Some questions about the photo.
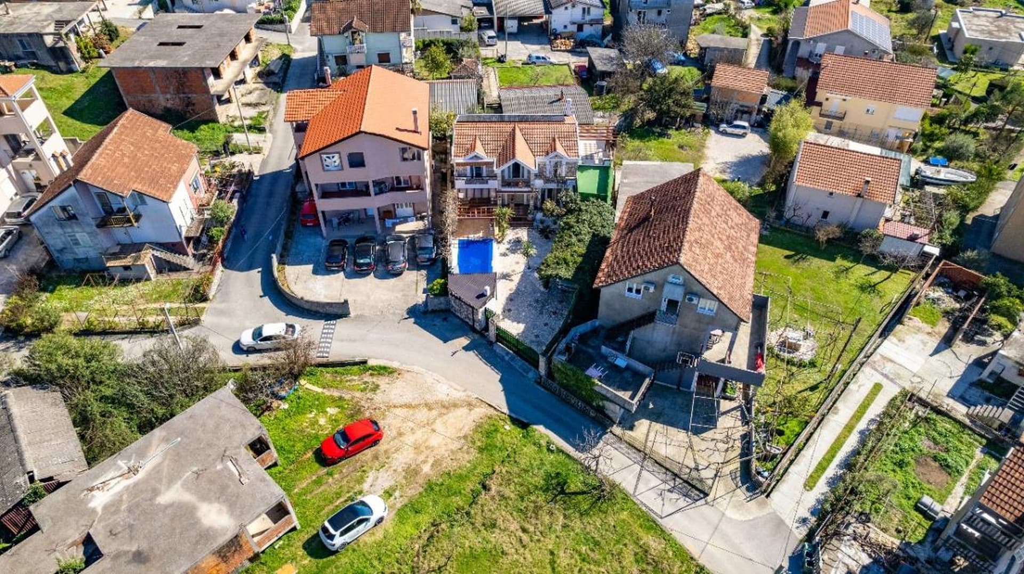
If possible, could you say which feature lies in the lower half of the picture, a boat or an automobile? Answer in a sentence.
Visible in the lower half of the picture is an automobile.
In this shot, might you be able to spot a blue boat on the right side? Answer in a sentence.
No, there's no blue boat to be seen on the right side.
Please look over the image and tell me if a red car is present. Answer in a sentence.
Yes, the picture does show a red car.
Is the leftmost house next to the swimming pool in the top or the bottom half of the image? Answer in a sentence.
The leftmost house next to the swimming pool sits in the top half of the picture.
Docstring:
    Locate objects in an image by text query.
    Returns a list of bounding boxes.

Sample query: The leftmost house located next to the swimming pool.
[284,58,433,240]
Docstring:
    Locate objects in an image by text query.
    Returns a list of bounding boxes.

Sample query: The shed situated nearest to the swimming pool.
[448,273,497,335]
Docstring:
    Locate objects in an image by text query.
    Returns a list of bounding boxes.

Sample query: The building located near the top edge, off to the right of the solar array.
[923,3,1024,68]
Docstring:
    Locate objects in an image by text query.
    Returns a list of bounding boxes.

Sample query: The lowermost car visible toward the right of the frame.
[715,116,756,137]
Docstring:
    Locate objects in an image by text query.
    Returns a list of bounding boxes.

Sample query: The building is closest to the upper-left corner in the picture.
[0,0,120,67]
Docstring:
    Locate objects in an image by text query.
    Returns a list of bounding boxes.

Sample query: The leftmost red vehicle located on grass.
[318,417,387,467]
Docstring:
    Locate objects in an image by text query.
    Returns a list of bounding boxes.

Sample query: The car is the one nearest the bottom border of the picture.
[315,493,394,555]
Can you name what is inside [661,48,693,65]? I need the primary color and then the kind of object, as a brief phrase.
blue car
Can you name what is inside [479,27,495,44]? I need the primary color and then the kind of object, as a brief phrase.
gray car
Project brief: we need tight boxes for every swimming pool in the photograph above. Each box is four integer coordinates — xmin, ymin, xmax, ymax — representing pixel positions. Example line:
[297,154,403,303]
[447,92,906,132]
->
[447,236,497,290]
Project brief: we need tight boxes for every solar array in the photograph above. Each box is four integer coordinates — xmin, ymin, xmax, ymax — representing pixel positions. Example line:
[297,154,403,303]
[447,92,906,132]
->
[856,2,891,47]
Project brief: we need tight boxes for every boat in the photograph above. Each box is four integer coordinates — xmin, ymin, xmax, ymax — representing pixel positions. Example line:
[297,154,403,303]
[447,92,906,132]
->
[910,161,987,188]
